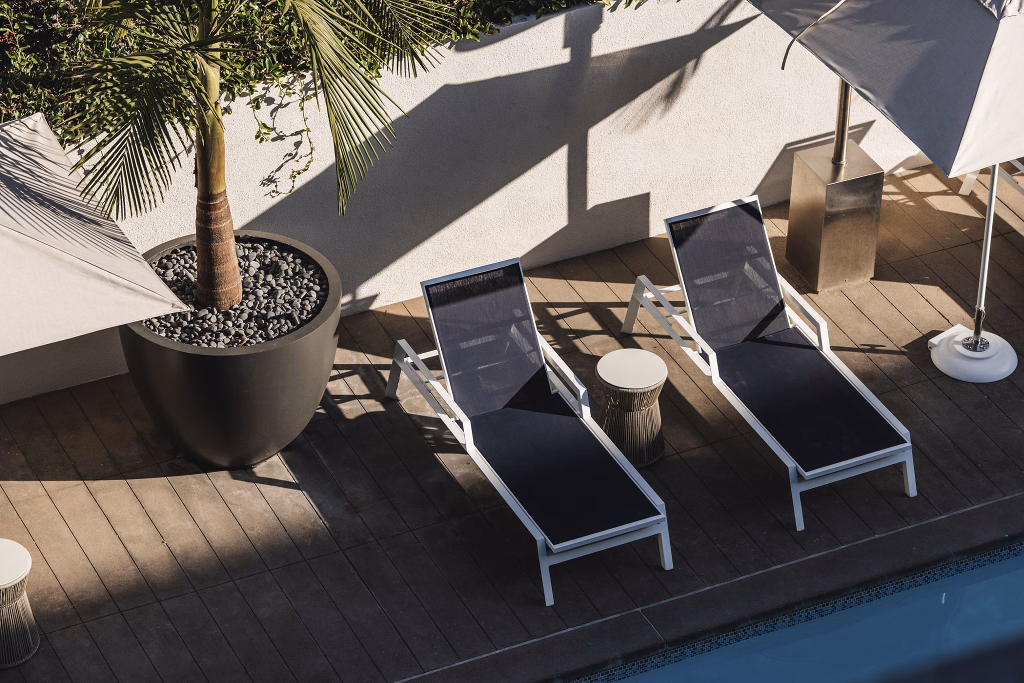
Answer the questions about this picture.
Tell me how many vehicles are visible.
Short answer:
0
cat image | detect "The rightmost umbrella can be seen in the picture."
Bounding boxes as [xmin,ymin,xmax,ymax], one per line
[754,0,1024,321]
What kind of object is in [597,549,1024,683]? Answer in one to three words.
swimming pool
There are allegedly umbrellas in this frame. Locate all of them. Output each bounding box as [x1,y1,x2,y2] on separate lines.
[754,0,1024,321]
[0,107,192,352]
